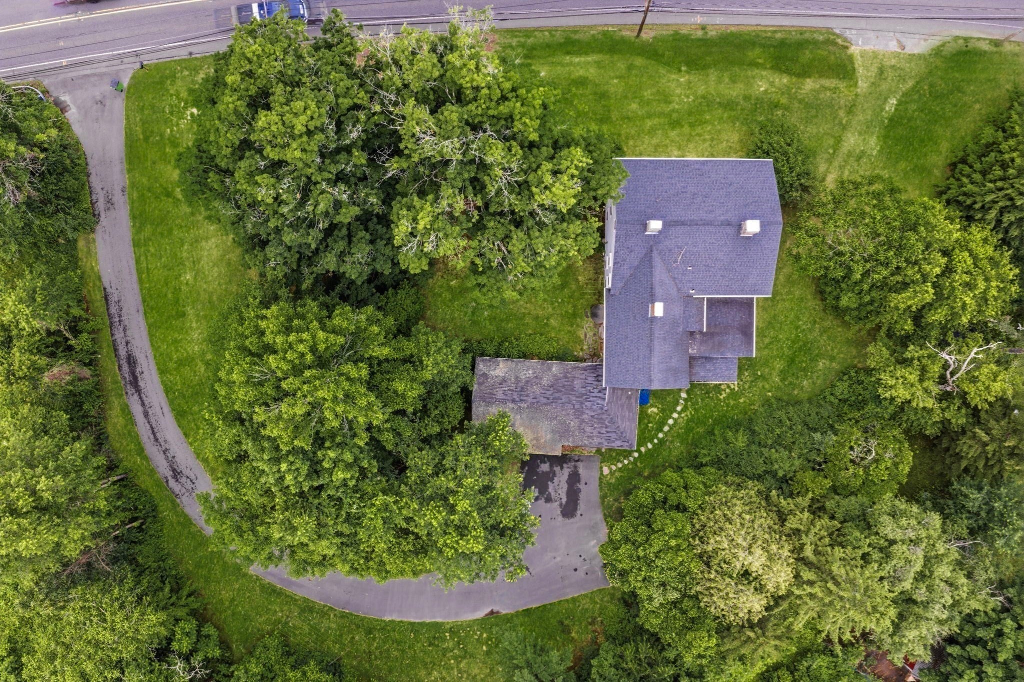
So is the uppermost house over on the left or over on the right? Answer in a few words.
right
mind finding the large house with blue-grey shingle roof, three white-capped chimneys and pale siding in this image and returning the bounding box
[600,158,783,389]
